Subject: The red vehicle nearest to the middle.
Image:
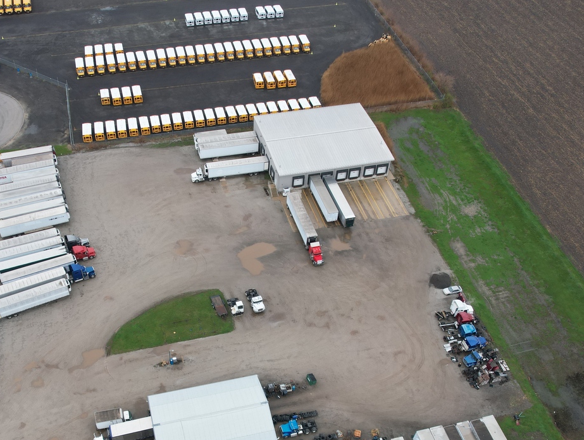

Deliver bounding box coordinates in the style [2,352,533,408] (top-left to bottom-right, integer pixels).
[304,238,323,265]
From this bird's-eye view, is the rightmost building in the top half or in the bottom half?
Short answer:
top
